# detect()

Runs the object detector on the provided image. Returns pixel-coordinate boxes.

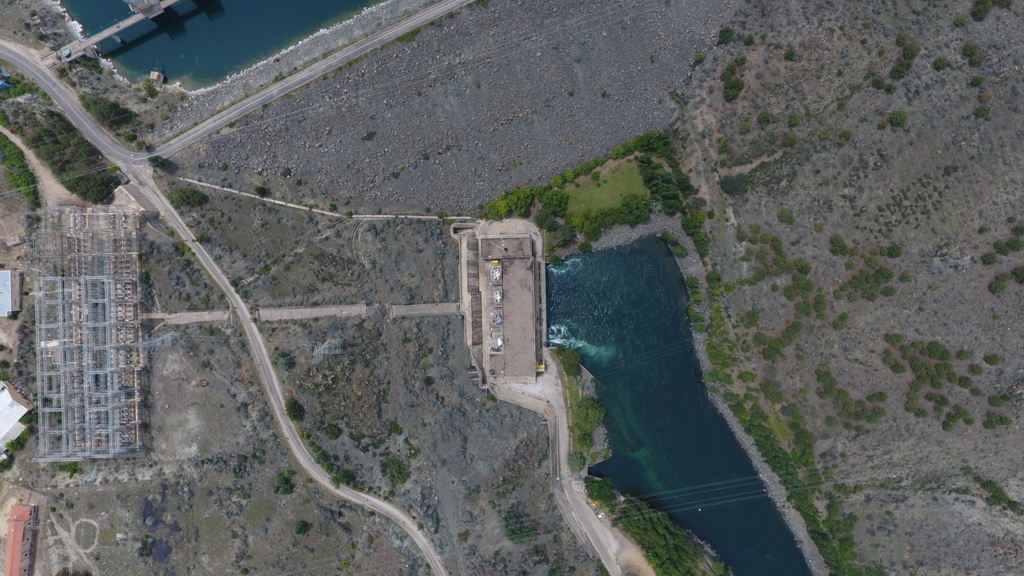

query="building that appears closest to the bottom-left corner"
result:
[4,502,38,576]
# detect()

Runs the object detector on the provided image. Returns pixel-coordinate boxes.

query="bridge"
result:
[41,0,189,69]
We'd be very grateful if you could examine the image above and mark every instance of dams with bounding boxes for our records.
[150,0,736,215]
